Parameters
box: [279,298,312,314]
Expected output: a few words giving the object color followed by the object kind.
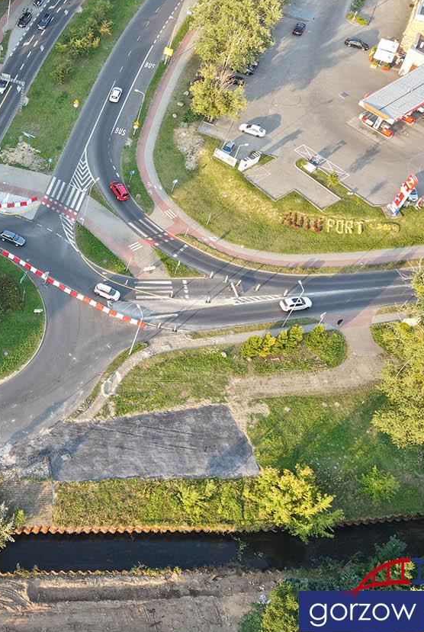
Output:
white car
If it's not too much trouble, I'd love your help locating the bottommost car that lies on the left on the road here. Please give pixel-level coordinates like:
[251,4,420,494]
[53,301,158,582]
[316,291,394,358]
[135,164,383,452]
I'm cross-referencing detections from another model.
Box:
[92,282,121,304]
